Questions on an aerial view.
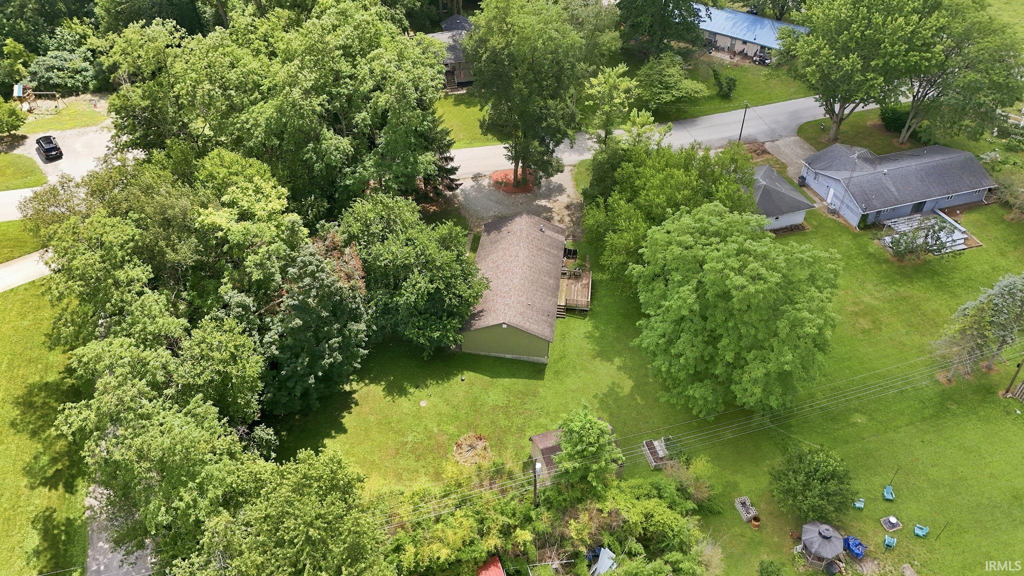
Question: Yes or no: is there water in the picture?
No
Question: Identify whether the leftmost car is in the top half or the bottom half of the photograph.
top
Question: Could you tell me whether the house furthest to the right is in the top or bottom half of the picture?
top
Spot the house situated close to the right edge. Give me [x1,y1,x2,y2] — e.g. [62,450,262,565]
[800,143,999,228]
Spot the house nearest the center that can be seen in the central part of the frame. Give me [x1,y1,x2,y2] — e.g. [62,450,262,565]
[457,212,567,360]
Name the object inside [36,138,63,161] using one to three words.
car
